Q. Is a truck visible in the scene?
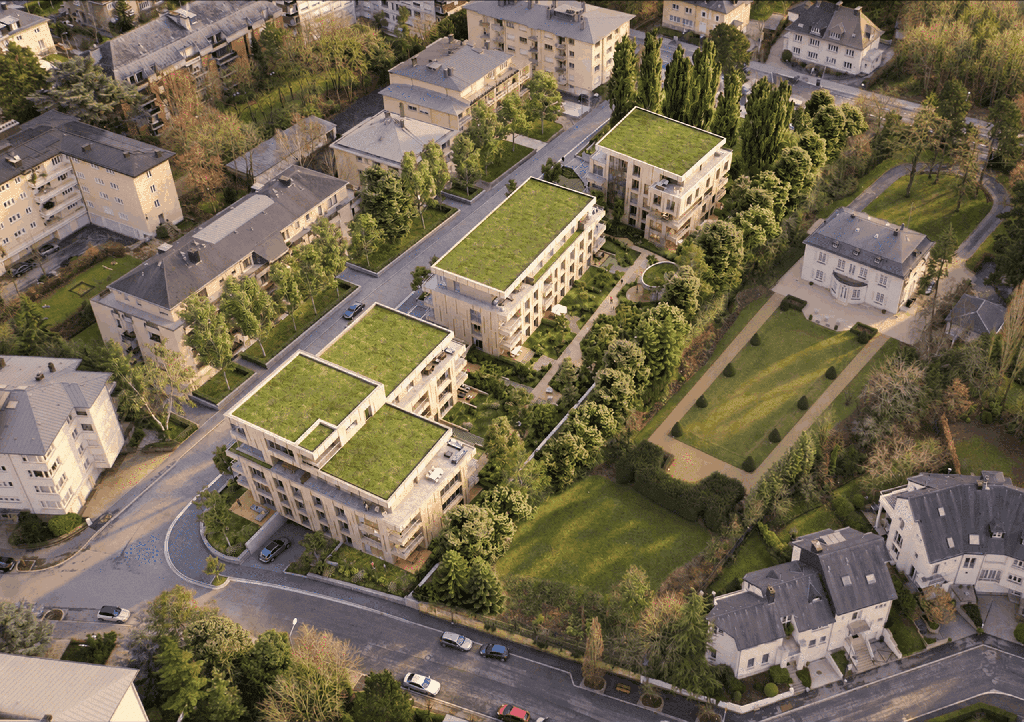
No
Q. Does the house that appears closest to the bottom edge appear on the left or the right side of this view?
left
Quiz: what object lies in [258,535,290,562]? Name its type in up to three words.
car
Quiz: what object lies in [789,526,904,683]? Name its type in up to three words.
house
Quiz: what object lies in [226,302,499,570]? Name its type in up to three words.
building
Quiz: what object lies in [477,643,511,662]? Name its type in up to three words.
car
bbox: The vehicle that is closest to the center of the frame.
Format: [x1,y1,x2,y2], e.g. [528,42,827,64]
[341,301,368,320]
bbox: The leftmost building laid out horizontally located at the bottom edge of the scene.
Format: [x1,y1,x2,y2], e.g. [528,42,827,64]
[0,653,146,722]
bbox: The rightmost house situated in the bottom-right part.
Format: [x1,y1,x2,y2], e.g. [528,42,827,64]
[870,462,1024,607]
